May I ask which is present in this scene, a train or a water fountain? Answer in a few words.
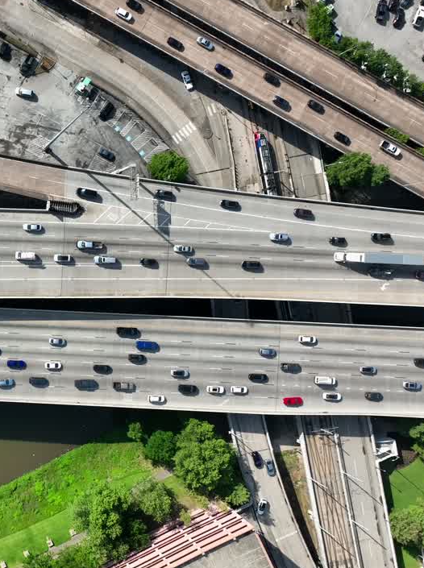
train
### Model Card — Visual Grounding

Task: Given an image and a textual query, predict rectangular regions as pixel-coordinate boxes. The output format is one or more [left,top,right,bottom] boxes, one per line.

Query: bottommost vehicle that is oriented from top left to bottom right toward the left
[98,147,115,161]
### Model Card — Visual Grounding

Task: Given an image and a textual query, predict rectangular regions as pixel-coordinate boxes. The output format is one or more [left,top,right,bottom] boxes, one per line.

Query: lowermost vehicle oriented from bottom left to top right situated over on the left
[101,102,114,119]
